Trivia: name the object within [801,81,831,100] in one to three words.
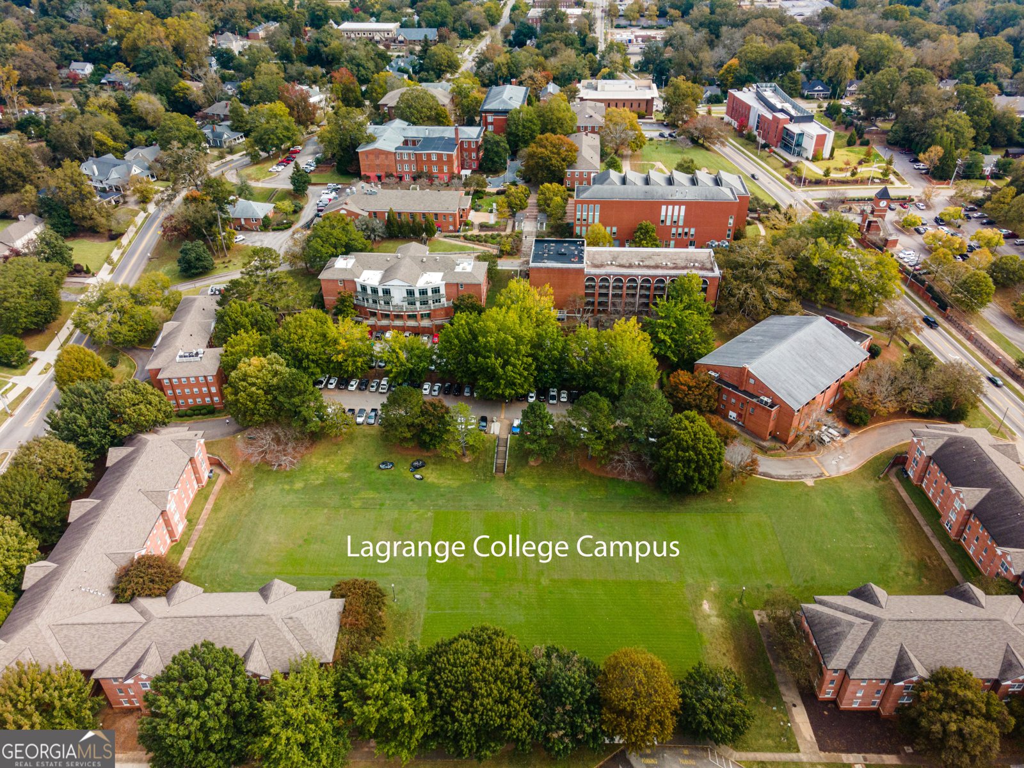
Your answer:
house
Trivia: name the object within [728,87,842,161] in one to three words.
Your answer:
building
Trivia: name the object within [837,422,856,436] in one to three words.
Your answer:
car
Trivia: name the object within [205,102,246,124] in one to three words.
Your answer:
house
